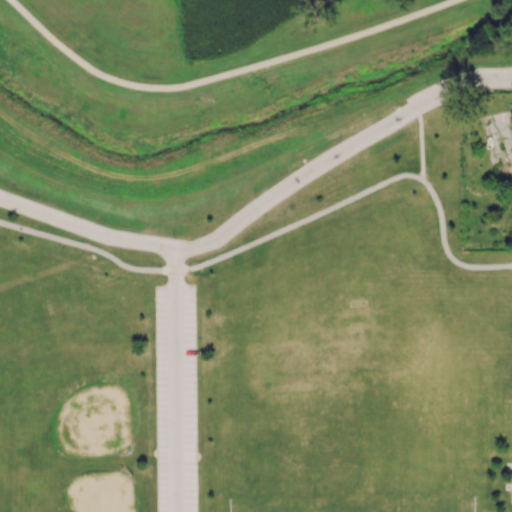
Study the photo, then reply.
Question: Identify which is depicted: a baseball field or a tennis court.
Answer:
baseball field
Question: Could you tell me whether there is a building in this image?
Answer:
No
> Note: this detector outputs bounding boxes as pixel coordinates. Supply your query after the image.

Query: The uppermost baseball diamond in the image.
[60,386,132,456]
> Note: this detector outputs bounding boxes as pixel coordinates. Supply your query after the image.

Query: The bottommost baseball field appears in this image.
[68,472,134,512]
